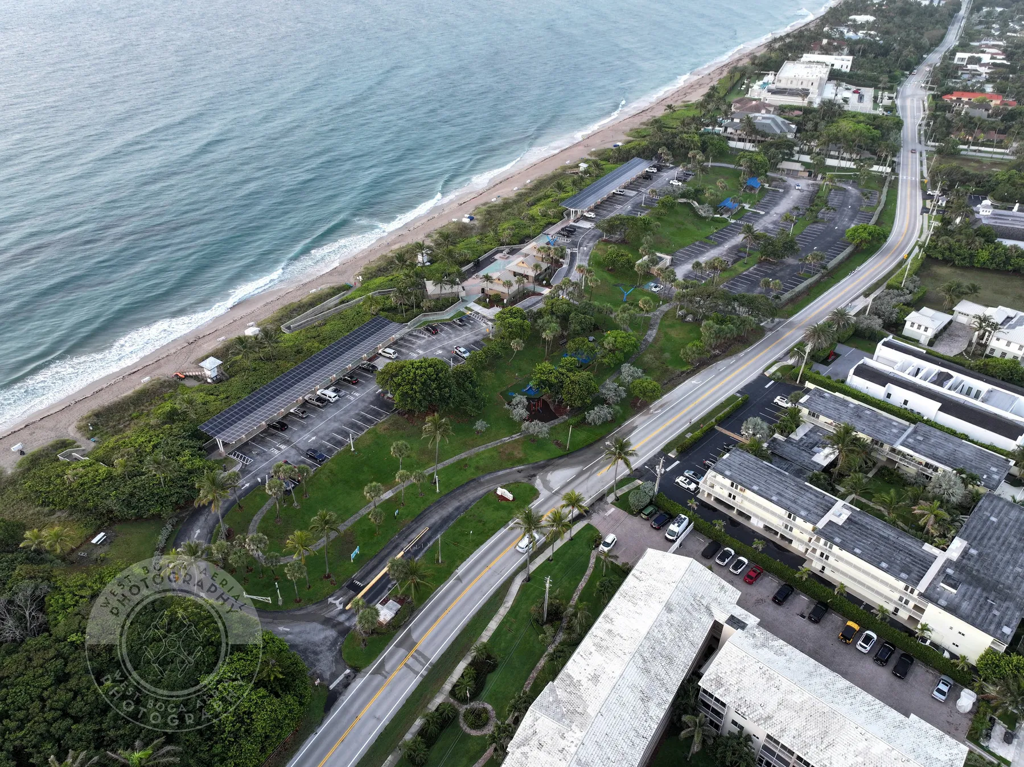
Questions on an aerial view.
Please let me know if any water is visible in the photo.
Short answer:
Yes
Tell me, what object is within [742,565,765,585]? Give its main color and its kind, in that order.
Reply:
red car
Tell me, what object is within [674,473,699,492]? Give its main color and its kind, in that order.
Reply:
white car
